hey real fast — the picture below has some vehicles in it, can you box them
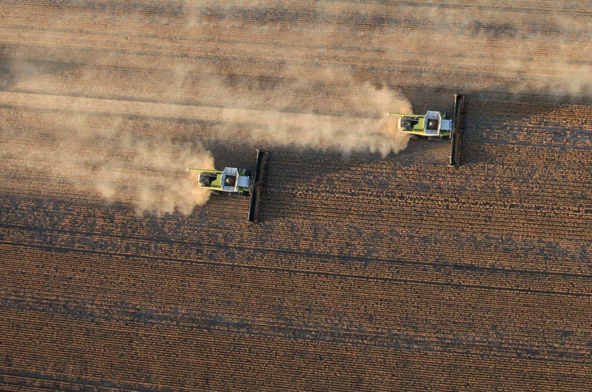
[184,149,272,224]
[386,93,469,166]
